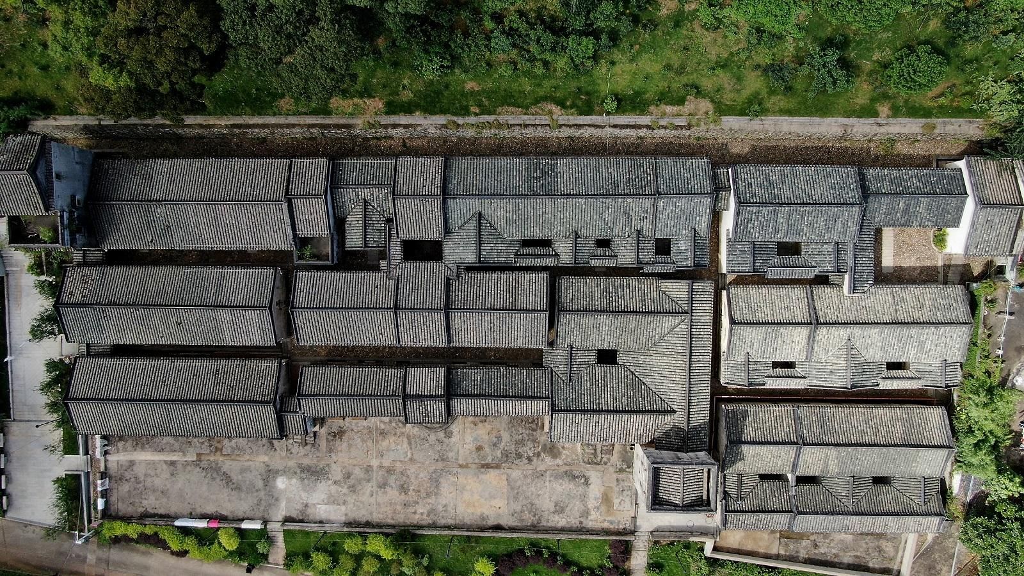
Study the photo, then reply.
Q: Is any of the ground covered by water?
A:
No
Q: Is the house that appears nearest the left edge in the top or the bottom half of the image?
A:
top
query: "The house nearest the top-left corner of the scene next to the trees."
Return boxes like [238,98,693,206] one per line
[0,133,115,255]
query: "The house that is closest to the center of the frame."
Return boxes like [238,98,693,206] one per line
[447,272,550,348]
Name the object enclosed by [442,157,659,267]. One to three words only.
house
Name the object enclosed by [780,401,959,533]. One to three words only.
house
